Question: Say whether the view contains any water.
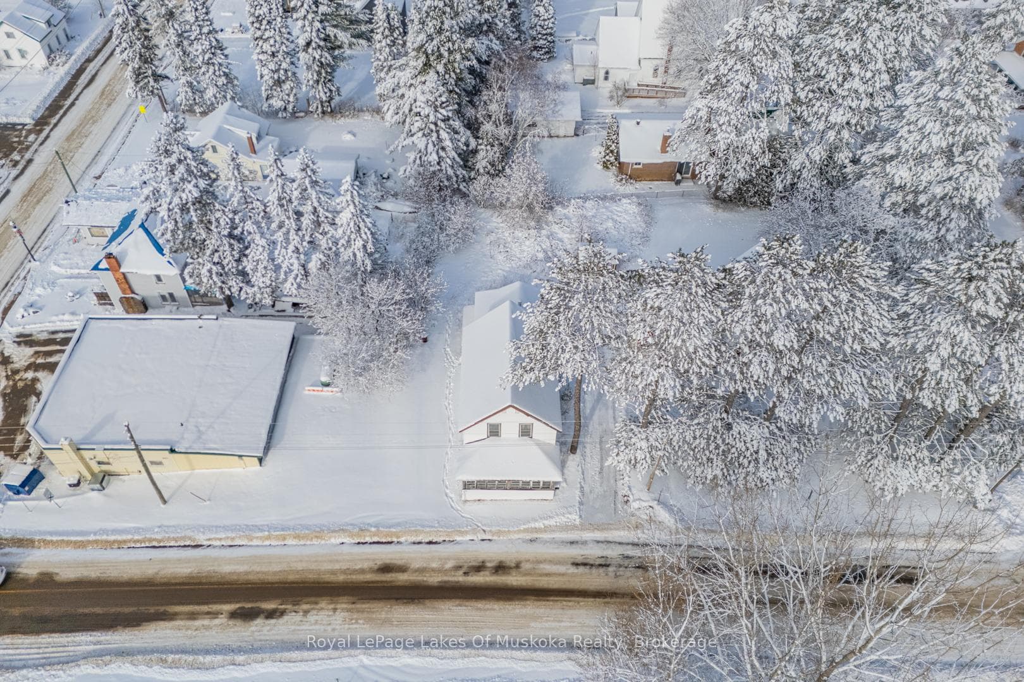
No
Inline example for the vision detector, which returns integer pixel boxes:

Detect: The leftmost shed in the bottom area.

[0,458,50,502]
